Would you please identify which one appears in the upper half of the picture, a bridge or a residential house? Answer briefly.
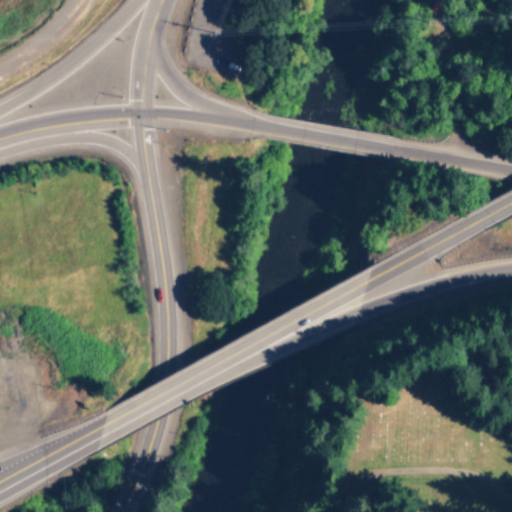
bridge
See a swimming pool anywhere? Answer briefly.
No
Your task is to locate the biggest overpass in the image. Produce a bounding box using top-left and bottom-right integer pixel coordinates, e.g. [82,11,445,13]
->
[98,266,372,453]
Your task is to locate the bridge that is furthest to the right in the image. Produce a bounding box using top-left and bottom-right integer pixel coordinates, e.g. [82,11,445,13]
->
[256,115,416,162]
